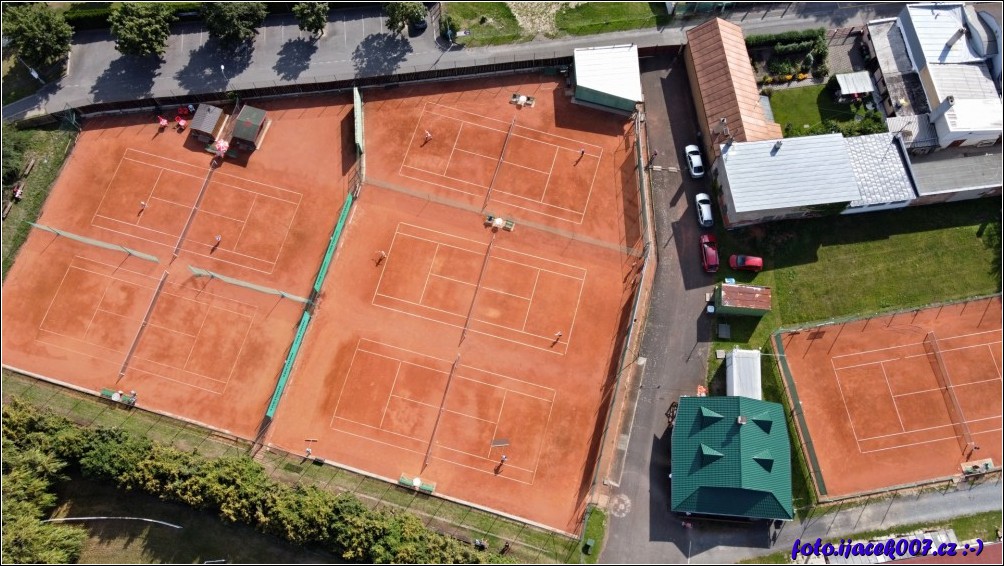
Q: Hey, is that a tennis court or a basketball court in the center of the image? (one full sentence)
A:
Visible in the center of the image is a tennis court.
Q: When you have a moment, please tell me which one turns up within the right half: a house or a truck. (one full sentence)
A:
Looking within the right half, you will find a house.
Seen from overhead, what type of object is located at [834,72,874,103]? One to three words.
gazebo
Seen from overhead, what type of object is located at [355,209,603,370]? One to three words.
tennis court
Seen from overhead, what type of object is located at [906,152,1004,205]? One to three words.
shed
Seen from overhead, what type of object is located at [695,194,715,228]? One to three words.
car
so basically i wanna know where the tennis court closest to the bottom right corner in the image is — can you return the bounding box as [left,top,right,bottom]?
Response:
[816,318,1004,468]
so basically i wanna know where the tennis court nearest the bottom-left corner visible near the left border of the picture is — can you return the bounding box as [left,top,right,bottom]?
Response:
[18,242,274,409]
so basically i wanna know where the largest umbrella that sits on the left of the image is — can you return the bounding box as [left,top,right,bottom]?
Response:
[211,139,225,154]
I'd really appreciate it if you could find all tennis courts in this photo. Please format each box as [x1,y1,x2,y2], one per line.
[313,324,574,501]
[816,318,1004,468]
[355,209,603,370]
[18,242,274,409]
[75,136,318,287]
[383,89,619,237]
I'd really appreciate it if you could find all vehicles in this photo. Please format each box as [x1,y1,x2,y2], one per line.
[700,235,720,273]
[685,145,705,179]
[728,253,764,273]
[695,194,715,228]
[171,3,200,21]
